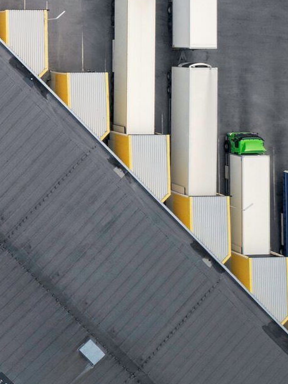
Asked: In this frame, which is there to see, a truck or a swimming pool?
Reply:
truck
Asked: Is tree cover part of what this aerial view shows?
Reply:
No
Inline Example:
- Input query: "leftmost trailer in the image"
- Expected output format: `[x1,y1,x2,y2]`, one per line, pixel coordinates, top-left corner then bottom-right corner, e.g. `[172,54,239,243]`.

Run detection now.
[108,0,156,133]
